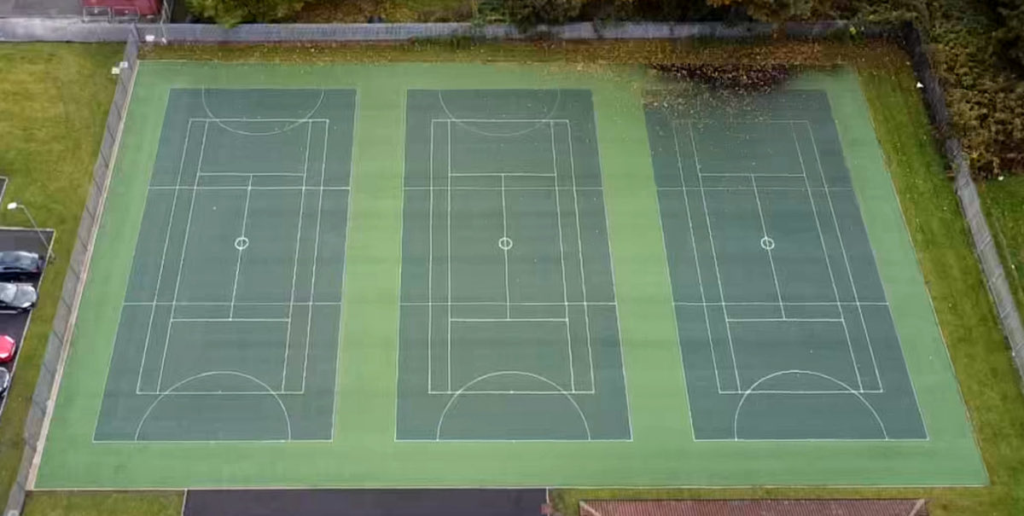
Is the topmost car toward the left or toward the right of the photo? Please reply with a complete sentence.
It is on the left.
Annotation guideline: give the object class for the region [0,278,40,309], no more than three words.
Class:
car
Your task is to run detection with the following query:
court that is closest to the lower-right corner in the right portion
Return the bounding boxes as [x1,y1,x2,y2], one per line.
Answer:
[642,89,927,439]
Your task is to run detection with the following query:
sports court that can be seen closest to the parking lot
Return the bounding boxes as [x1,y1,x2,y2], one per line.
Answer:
[95,88,357,441]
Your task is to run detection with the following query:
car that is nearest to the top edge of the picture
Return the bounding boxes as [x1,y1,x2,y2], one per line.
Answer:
[0,250,49,282]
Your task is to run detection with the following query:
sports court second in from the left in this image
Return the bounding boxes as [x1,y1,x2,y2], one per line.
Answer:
[396,88,631,440]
